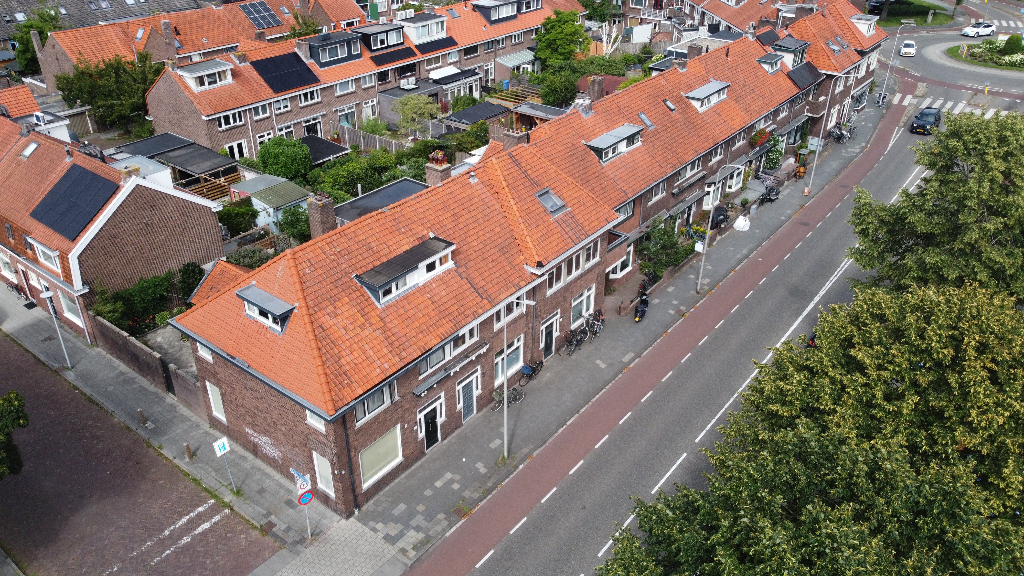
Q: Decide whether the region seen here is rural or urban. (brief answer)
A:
urban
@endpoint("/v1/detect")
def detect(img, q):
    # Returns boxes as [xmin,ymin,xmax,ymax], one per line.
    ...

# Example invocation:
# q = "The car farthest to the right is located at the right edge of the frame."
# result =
[964,22,1001,37]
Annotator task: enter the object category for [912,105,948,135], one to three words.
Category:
car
